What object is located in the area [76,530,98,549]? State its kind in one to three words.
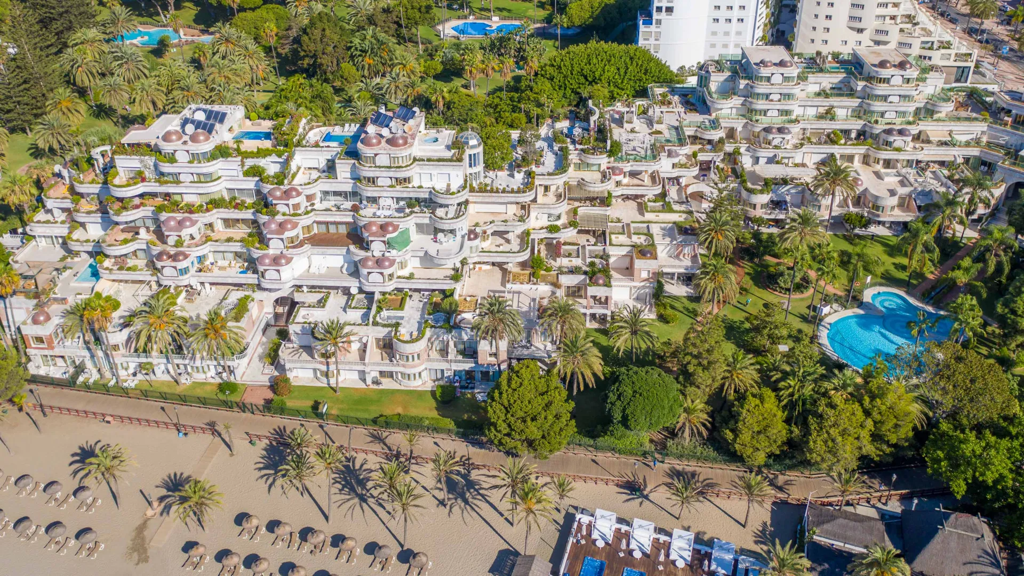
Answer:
umbrella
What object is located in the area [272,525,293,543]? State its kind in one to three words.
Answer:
umbrella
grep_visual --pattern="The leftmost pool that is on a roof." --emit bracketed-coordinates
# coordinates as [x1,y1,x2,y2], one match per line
[72,263,102,285]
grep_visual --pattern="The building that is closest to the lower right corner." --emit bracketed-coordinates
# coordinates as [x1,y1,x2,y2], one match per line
[901,502,1009,576]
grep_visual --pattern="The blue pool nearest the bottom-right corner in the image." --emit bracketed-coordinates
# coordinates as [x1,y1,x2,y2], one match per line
[818,286,970,385]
